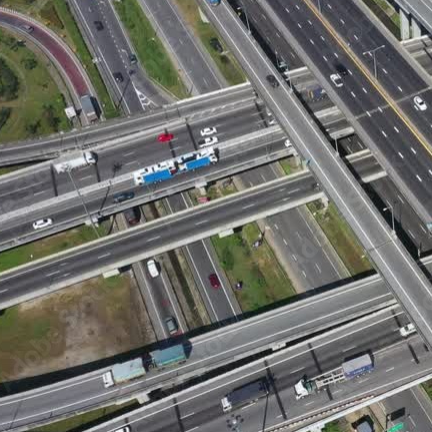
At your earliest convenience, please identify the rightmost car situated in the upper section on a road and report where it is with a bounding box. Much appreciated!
[412,97,426,110]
